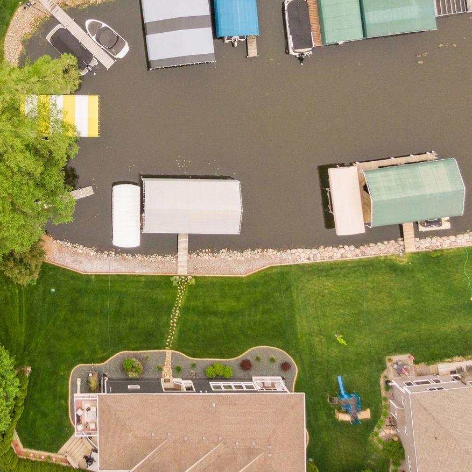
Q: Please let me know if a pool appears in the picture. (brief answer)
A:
No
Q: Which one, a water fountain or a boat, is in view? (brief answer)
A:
boat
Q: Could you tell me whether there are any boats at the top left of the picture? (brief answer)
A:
Yes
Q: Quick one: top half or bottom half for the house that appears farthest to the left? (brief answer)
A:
bottom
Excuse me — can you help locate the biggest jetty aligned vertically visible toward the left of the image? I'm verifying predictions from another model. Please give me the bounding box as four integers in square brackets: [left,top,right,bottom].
[175,234,189,275]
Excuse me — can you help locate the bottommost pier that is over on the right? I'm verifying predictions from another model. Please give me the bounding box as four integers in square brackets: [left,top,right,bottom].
[401,221,416,254]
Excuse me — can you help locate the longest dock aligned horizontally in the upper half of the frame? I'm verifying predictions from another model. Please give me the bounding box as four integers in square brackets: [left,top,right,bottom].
[353,151,438,170]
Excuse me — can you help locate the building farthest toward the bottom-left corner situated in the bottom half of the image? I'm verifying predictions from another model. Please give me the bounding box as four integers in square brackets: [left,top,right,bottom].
[57,364,307,472]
